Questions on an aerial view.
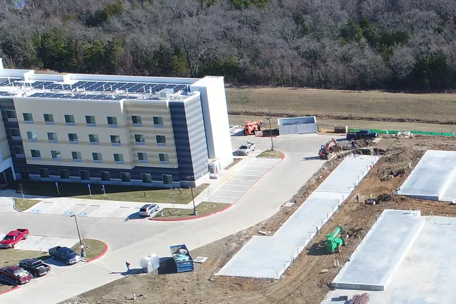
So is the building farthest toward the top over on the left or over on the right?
left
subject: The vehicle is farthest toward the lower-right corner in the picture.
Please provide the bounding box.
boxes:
[324,219,351,249]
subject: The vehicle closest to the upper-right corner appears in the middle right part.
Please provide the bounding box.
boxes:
[347,126,379,138]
